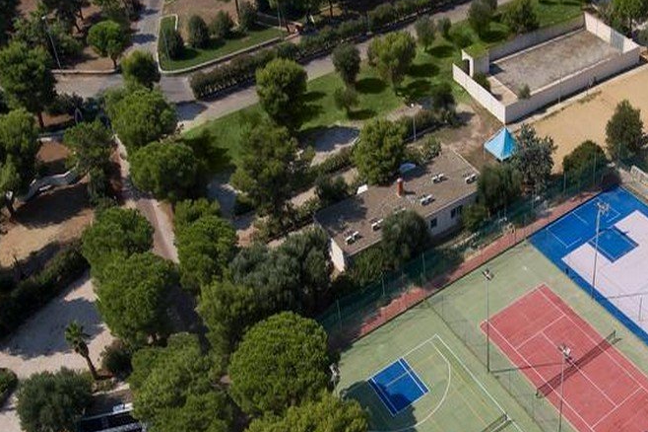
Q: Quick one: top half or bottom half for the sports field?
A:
top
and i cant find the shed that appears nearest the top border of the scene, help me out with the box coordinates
[445,44,489,79]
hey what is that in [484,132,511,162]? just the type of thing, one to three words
gazebo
